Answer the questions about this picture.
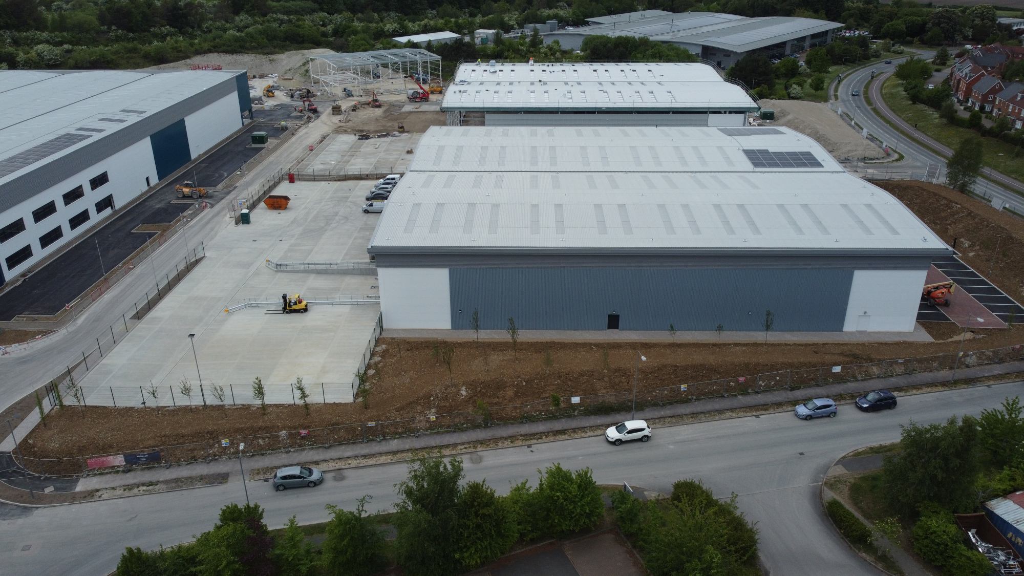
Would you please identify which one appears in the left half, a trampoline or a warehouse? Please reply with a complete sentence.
It is a warehouse that can be seen in the left half.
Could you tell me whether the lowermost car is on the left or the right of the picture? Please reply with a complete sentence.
You can find the lowermost car on the left side of the picture.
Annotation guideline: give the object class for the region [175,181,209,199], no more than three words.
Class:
work vehicle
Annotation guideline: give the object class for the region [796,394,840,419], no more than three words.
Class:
car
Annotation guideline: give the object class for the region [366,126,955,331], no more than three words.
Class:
warehouse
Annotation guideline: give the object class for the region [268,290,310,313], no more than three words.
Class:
work vehicle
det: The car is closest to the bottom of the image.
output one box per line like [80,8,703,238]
[270,464,321,491]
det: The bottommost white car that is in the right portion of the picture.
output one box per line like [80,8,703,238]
[605,418,653,444]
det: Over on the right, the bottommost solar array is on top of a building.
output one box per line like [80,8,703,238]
[738,149,823,167]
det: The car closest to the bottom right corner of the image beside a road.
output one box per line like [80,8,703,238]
[856,387,899,411]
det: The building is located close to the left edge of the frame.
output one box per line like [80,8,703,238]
[0,64,262,286]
